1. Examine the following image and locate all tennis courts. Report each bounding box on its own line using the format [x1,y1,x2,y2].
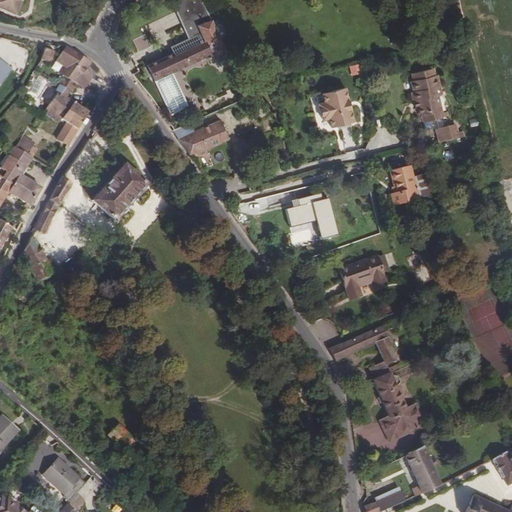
[456,286,512,380]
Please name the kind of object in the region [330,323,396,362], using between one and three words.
barn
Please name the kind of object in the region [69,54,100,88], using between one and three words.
house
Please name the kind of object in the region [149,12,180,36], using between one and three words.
building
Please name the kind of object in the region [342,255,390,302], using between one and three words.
house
